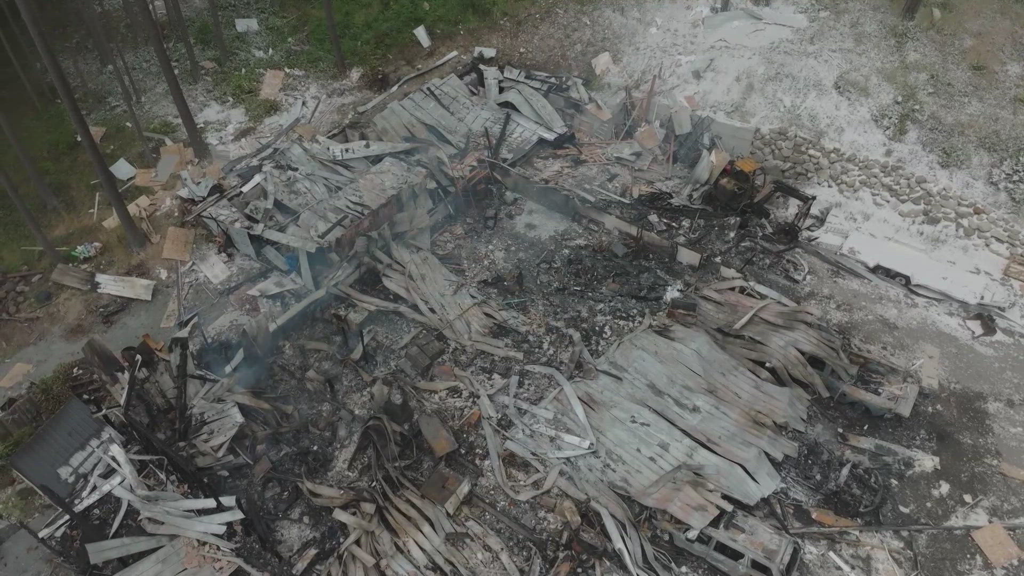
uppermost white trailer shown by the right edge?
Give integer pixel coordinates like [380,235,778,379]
[801,227,1011,308]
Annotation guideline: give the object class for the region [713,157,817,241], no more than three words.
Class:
work vehicle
